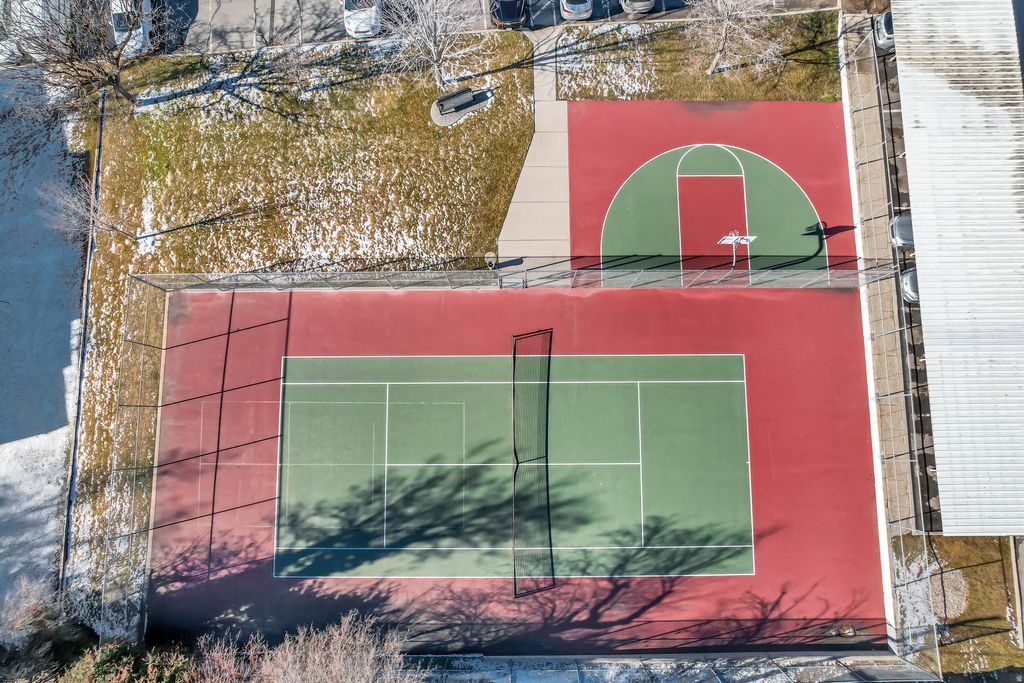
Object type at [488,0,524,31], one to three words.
car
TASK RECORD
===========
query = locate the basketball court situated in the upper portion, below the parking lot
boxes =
[568,99,858,286]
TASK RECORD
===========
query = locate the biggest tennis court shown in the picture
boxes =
[146,285,889,652]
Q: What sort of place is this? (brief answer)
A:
sports ground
